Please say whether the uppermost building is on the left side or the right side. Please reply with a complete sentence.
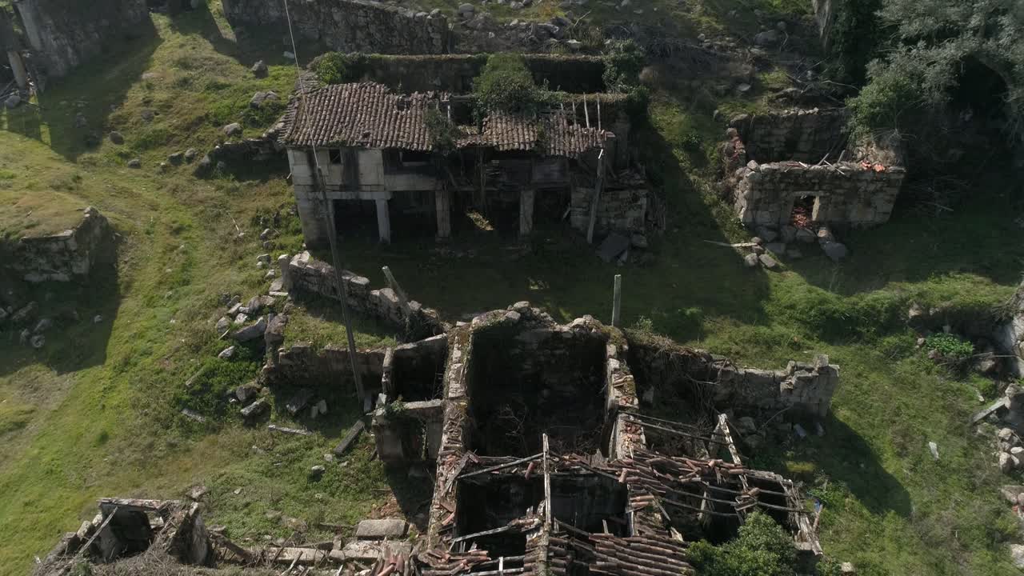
The uppermost building sits on the left side.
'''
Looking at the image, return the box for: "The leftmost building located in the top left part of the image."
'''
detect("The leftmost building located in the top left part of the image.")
[0,0,157,81]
